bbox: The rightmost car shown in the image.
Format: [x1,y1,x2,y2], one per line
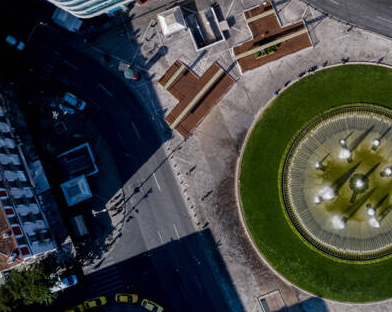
[141,298,163,312]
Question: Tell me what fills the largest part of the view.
paved ground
